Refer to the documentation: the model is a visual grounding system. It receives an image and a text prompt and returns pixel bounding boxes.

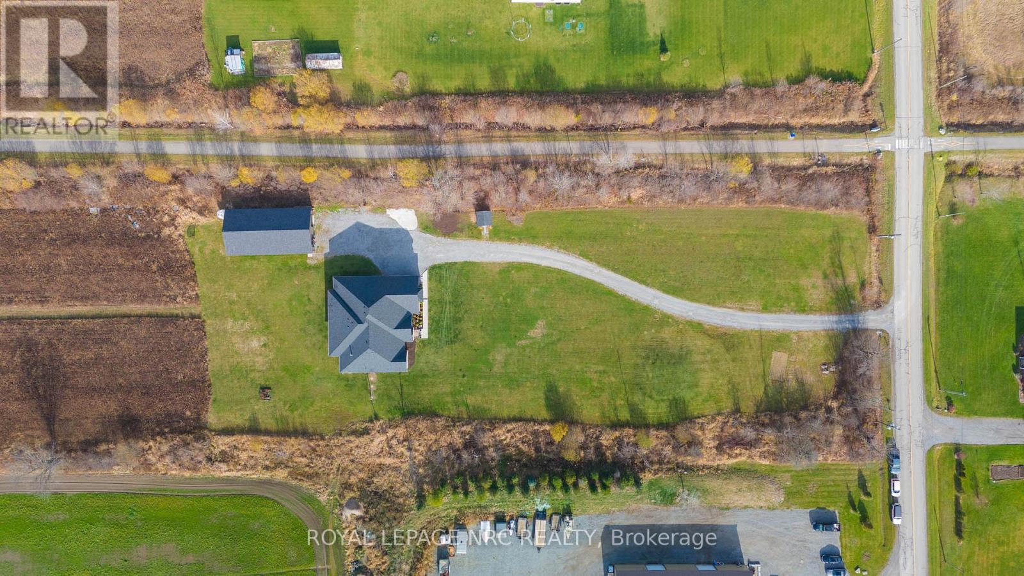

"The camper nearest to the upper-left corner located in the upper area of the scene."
[223,44,242,72]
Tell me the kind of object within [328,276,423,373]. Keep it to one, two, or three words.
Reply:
house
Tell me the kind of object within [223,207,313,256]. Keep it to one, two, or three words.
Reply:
barn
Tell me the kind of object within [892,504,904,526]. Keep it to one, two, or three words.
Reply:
vehicle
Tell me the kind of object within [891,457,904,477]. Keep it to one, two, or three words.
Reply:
vehicle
